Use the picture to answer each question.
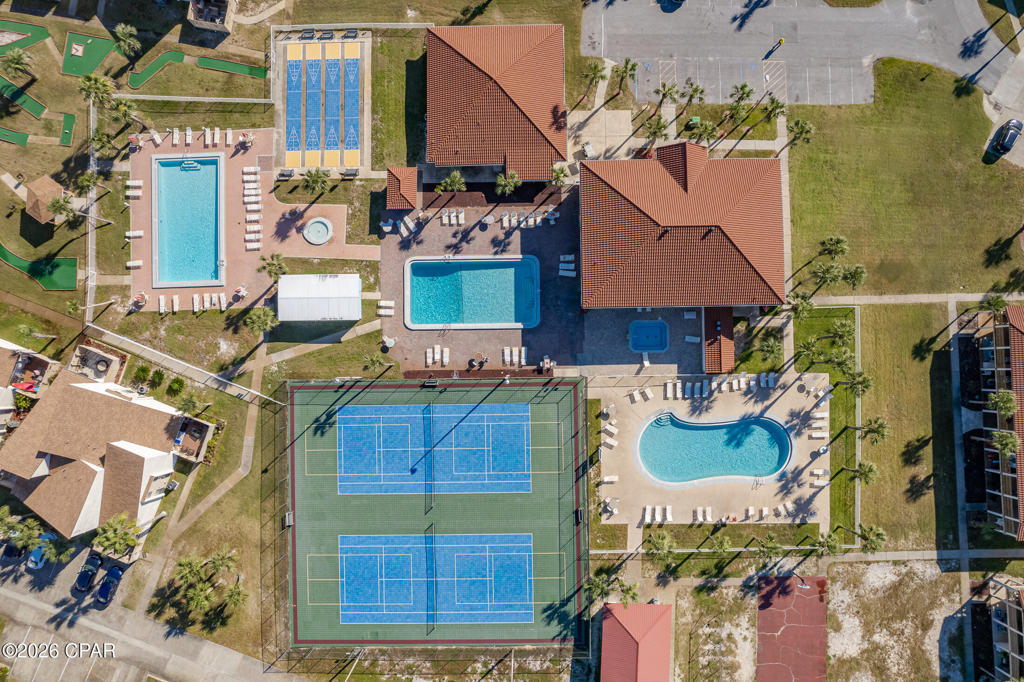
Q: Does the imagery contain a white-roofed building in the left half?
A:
Yes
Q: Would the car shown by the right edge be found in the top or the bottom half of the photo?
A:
top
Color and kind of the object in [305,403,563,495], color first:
blue tennis court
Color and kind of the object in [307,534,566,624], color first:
blue tennis court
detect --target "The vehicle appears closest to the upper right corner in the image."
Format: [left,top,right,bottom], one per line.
[993,117,1022,156]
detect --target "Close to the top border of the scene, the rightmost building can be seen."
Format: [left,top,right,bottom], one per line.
[423,24,568,183]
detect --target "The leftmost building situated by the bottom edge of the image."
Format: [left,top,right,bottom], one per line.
[598,594,672,682]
